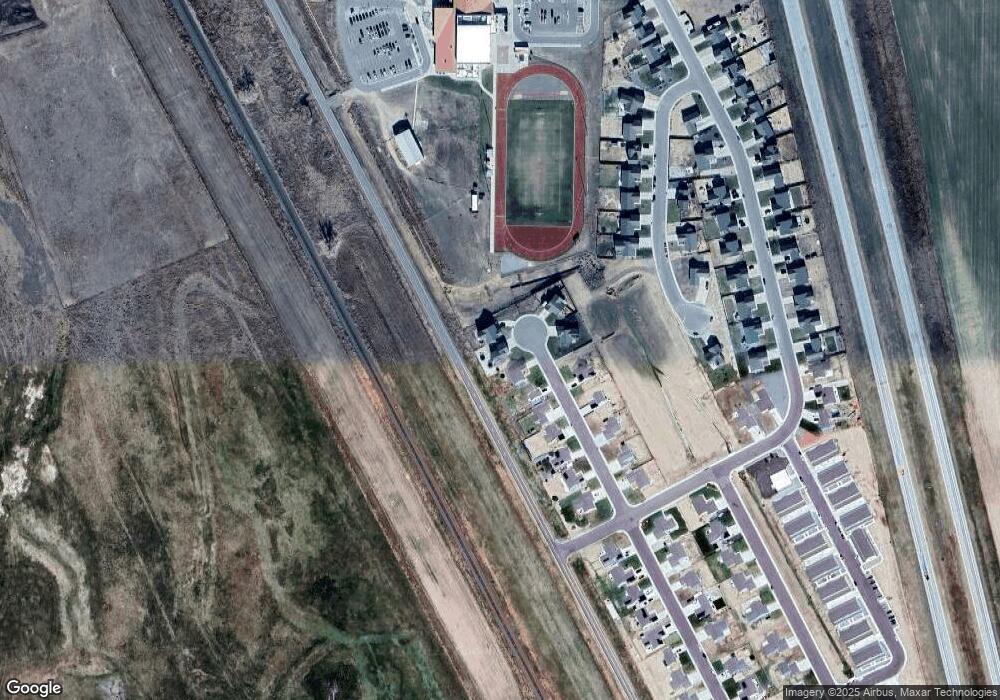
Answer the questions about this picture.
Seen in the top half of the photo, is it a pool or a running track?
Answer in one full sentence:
You can see a running track in the top half of the photo.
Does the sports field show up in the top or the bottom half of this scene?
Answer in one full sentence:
The sports field sits in the top half of the picture.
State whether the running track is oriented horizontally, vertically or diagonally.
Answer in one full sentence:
Seen from above, the running track lies vertically.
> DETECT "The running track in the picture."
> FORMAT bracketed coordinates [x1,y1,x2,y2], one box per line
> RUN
[496,64,585,262]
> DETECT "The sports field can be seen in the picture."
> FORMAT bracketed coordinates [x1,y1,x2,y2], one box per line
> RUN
[507,100,574,225]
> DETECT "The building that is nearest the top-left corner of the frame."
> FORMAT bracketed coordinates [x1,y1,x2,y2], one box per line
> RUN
[395,129,423,164]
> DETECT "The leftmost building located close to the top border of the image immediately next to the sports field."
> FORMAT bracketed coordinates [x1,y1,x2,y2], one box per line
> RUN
[434,0,502,75]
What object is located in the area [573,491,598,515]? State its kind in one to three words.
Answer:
house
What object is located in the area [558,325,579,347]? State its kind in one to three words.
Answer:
house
